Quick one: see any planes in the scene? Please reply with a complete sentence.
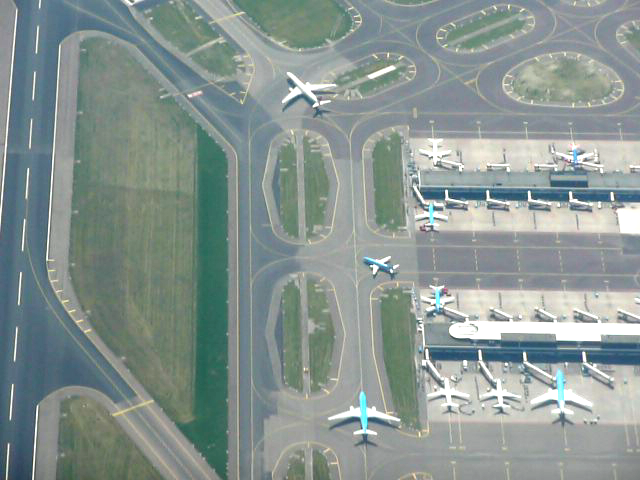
Yes, looking at the shot, I can spot a plane.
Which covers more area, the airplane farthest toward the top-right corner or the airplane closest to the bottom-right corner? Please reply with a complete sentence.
The airplane closest to the bottom-right corner is bigger than the airplane farthest toward the top-right corner.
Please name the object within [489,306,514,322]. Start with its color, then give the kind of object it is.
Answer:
white jet bridge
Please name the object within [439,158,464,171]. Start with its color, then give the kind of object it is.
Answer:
white jet bridge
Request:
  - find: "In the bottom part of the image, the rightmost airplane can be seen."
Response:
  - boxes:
[531,370,592,413]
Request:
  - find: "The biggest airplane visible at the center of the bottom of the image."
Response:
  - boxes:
[329,391,399,434]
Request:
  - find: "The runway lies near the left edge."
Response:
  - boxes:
[0,0,243,480]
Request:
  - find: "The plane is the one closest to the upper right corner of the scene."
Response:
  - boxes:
[554,143,595,171]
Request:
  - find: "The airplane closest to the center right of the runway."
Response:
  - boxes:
[366,258,399,276]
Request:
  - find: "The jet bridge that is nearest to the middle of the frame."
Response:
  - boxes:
[412,178,427,207]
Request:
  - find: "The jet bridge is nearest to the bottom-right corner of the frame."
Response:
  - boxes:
[582,352,614,384]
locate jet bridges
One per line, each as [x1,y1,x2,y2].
[534,163,559,172]
[616,308,640,322]
[527,192,552,209]
[425,350,446,383]
[489,306,514,322]
[578,160,604,173]
[534,306,558,322]
[569,192,593,210]
[571,308,602,323]
[582,352,614,384]
[444,191,469,209]
[610,193,622,209]
[412,178,427,207]
[522,351,558,383]
[439,158,464,171]
[486,191,511,209]
[486,163,511,172]
[629,165,640,174]
[441,305,470,321]
[478,351,498,385]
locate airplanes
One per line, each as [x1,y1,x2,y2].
[531,370,592,413]
[480,380,521,409]
[366,258,399,276]
[329,391,399,434]
[419,139,450,166]
[428,379,468,408]
[554,143,595,171]
[416,204,447,227]
[421,281,454,313]
[278,74,334,108]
